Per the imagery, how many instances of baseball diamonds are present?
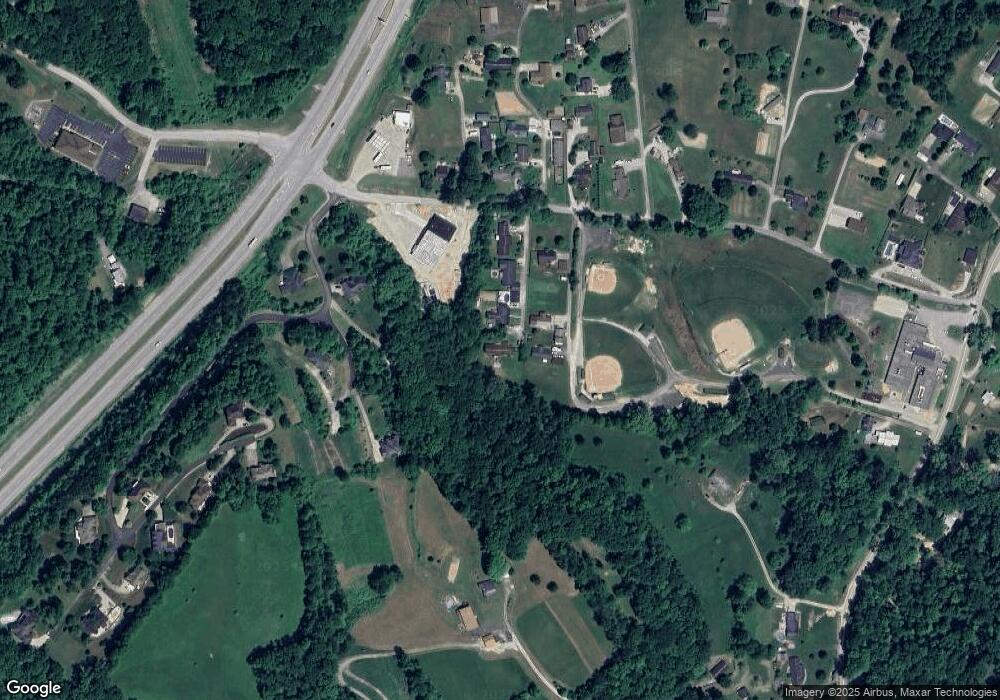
3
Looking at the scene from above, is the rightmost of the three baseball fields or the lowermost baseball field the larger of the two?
the rightmost of the three baseball fields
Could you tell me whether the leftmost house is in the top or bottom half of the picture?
bottom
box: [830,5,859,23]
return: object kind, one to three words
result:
house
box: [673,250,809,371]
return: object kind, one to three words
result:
baseball field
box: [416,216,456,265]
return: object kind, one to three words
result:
building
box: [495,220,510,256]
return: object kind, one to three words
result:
house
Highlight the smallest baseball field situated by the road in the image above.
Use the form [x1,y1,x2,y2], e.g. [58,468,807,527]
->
[583,258,644,317]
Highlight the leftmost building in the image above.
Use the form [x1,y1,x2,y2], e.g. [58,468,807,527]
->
[9,610,37,638]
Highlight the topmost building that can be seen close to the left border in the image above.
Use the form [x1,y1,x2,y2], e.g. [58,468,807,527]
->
[47,125,105,166]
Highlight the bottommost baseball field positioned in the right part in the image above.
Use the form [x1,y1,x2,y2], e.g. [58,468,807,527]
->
[579,323,660,399]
